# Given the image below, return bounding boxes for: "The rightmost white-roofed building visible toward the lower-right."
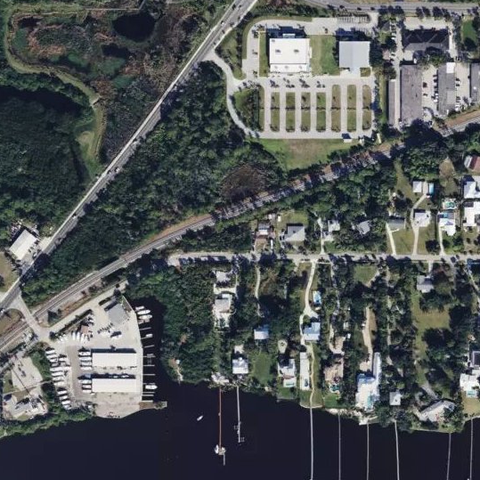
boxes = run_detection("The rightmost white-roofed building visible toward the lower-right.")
[460,366,480,391]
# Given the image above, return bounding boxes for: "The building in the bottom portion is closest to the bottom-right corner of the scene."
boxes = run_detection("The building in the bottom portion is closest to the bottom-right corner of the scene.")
[419,401,456,429]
